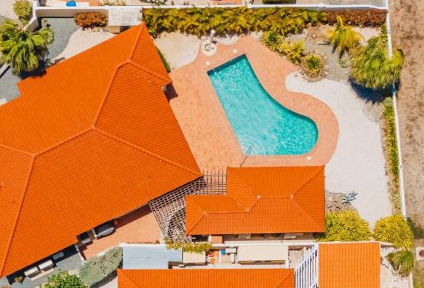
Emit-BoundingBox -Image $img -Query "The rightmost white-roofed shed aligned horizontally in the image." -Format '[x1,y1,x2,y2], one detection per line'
[237,246,287,264]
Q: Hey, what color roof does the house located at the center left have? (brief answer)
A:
orange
